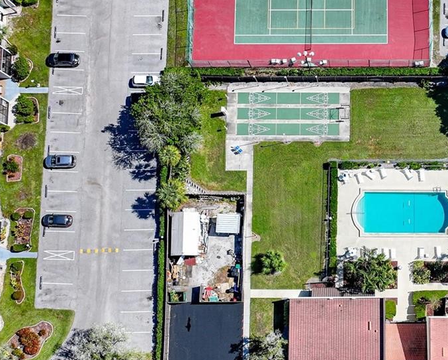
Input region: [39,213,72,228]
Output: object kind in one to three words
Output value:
car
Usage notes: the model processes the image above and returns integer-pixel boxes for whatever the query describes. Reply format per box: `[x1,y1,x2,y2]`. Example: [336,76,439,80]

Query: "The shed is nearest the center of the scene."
[215,213,240,233]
